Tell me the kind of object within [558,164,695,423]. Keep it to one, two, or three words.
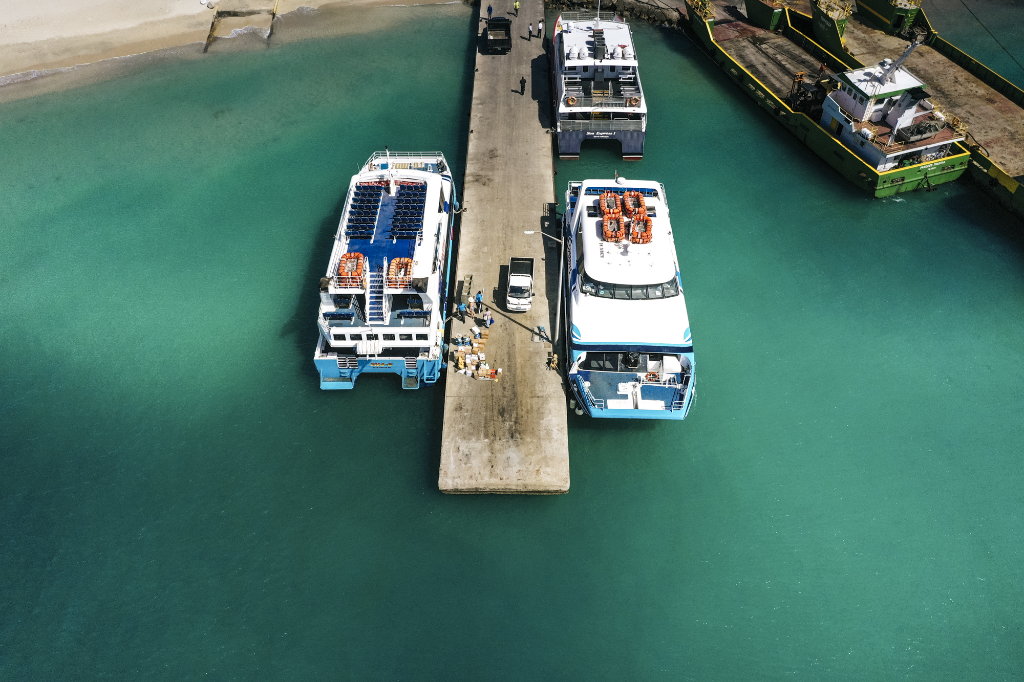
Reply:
ship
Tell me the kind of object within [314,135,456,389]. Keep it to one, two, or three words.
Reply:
ship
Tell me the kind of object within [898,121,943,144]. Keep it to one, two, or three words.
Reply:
boat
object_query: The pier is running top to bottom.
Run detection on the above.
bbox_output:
[439,0,569,497]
